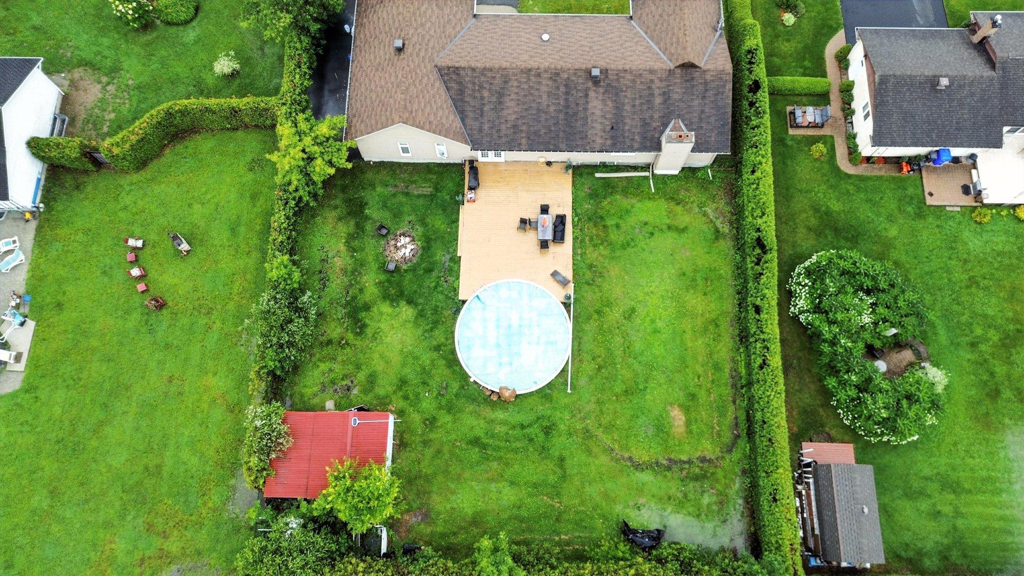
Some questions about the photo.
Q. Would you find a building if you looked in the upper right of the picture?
Yes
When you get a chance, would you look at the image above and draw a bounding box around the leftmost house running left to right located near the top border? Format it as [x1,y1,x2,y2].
[343,0,733,192]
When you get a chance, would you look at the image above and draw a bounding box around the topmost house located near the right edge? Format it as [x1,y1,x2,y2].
[848,3,1024,156]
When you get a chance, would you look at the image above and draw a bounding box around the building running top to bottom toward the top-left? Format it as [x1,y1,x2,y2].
[0,56,63,206]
